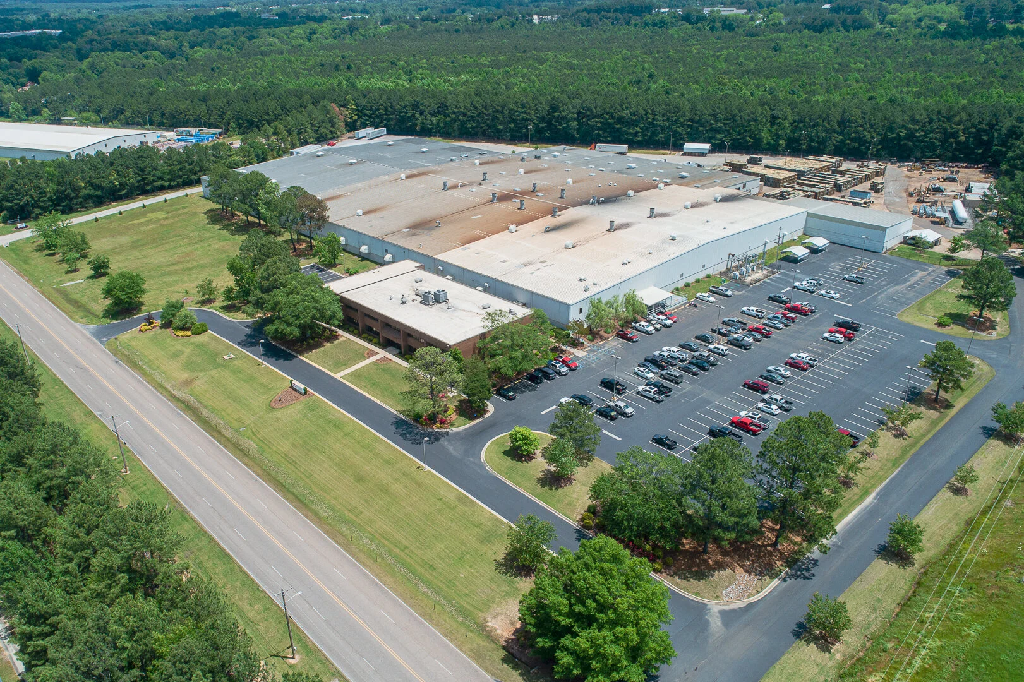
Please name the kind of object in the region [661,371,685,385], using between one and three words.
car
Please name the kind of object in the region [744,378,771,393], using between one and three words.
car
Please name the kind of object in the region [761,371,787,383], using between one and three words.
vehicle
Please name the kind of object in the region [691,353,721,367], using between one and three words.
vehicle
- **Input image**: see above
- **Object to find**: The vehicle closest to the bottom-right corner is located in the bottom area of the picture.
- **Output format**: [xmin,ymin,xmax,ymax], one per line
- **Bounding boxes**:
[828,427,866,446]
